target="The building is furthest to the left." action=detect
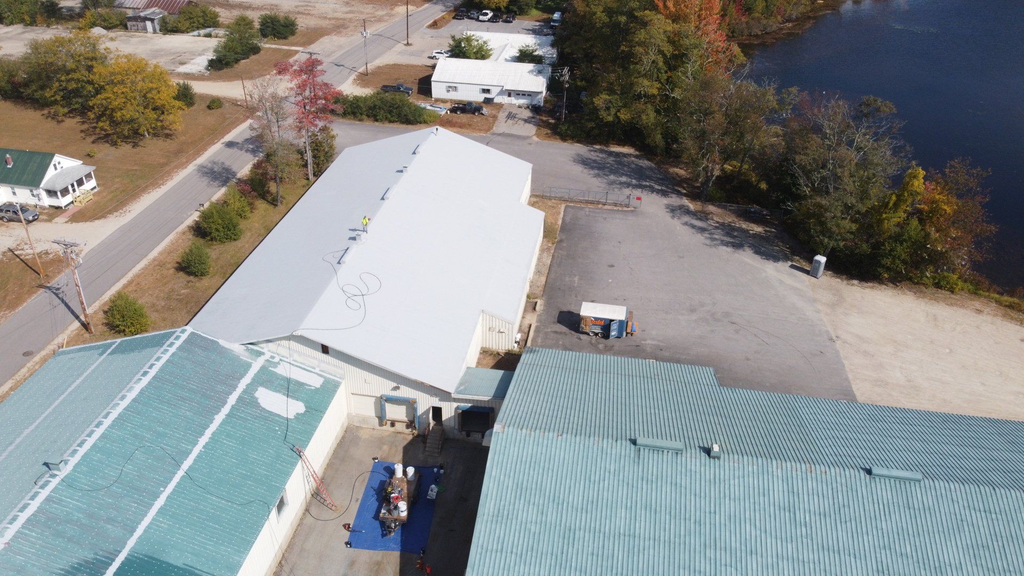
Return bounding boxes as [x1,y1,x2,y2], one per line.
[0,148,99,213]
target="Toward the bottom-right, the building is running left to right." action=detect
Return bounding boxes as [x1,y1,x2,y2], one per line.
[468,347,1024,576]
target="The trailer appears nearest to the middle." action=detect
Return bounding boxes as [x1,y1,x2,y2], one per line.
[579,302,635,340]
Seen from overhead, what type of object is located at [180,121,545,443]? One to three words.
warehouse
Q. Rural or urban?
urban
